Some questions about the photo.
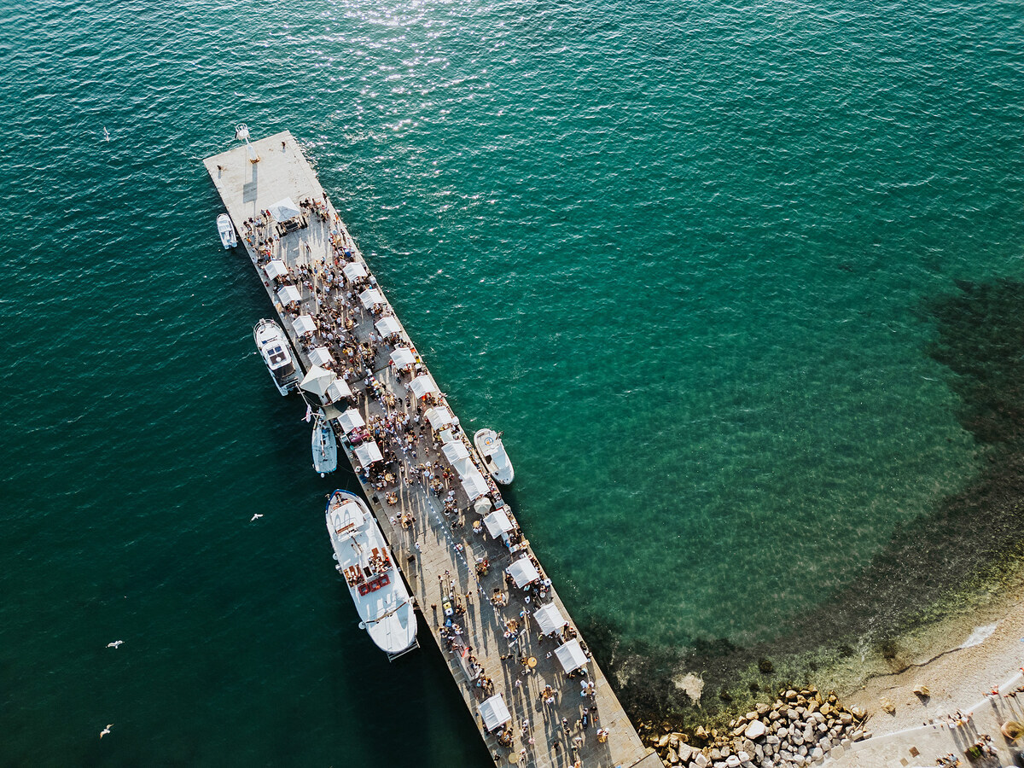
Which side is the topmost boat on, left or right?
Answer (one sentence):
The topmost boat is on the left side of the image.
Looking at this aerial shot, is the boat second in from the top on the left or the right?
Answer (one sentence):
The boat second in from the top sits on the left side.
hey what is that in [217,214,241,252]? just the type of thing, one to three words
boat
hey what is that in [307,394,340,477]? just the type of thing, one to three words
boat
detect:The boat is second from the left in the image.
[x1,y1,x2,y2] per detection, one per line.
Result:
[255,318,304,396]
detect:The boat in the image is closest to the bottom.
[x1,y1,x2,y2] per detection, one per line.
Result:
[320,488,420,663]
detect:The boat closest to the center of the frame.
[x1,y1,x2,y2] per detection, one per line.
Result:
[474,428,511,489]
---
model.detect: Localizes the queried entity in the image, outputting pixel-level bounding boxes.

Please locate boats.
[255,318,304,396]
[307,394,340,477]
[320,488,420,663]
[217,214,241,252]
[474,428,511,489]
